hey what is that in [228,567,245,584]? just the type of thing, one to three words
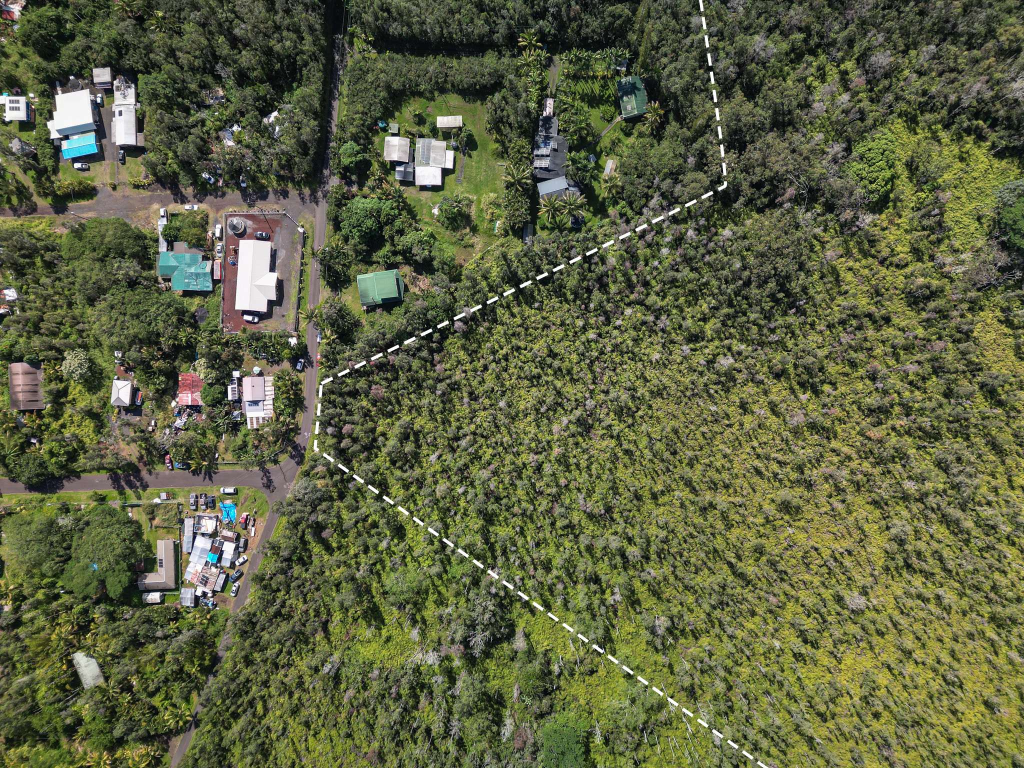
vehicle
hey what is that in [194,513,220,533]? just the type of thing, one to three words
shed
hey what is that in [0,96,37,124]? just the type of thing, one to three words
house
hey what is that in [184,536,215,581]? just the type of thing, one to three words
building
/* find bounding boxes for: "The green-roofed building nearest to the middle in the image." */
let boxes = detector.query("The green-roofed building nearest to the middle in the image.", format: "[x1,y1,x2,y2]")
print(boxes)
[357,269,404,306]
